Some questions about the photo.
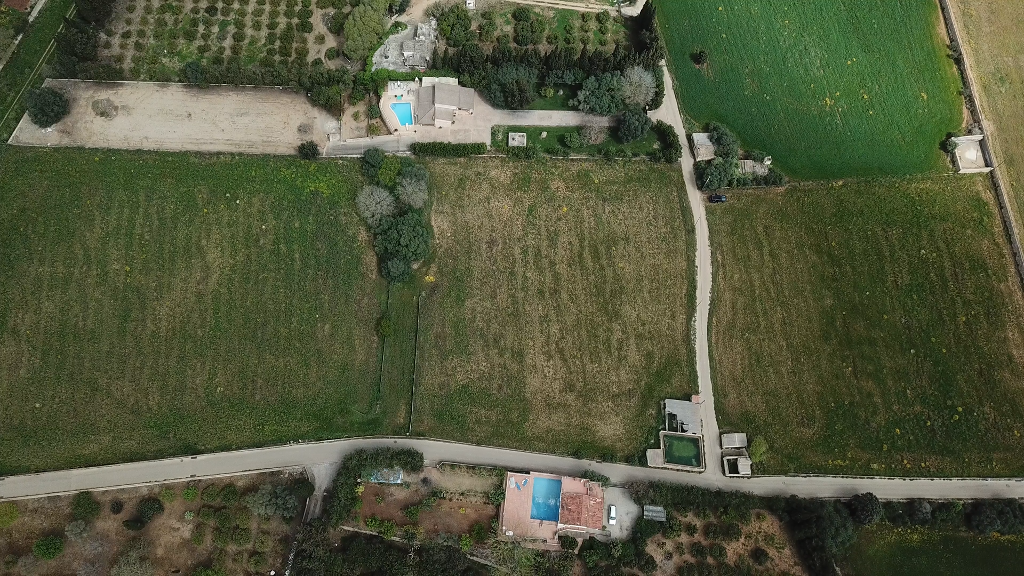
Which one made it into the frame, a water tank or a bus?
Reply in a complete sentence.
The image shows a water tank.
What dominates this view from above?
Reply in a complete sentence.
Most of the picture is covered by grass.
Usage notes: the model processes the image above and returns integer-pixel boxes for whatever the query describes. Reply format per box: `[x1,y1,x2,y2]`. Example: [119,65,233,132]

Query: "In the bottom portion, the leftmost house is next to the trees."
[555,493,612,542]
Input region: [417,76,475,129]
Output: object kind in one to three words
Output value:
house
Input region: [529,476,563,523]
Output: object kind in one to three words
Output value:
swimming pool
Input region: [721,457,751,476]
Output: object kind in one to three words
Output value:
shed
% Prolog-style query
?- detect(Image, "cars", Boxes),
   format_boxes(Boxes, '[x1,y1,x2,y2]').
[710,193,728,203]
[608,503,618,524]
